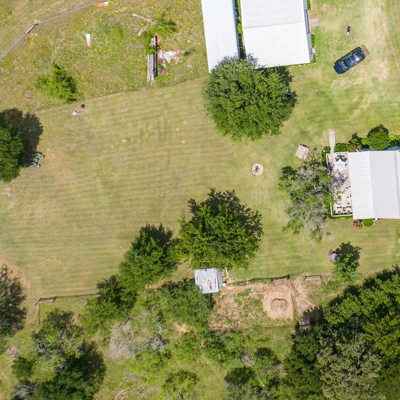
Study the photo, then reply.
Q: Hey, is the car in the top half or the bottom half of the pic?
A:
top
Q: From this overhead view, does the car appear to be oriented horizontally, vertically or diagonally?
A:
diagonally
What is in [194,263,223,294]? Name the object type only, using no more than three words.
shed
